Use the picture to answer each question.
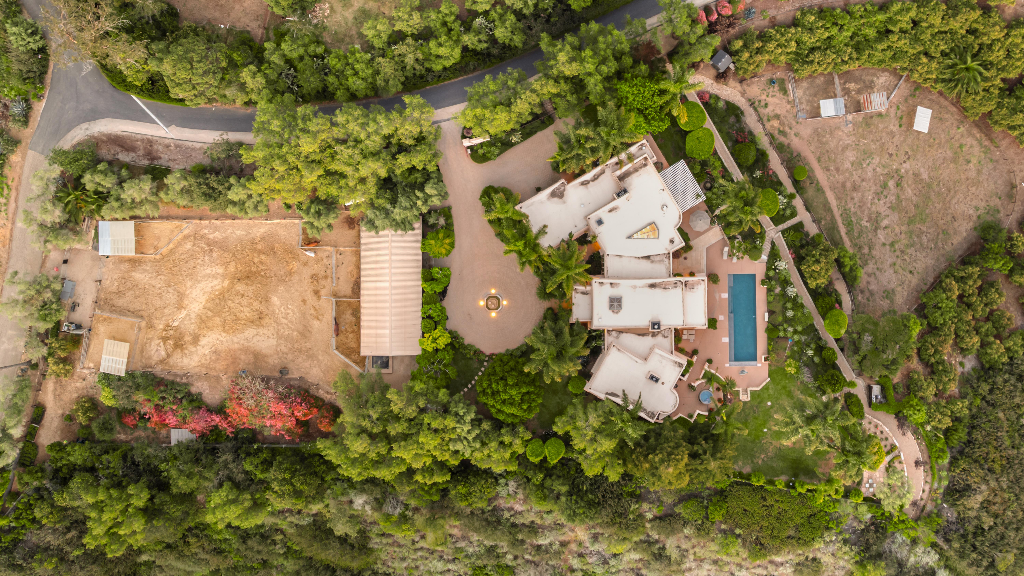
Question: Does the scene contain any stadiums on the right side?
No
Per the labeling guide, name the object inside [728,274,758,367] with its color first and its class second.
blue swimming pool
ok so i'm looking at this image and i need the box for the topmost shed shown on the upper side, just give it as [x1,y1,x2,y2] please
[706,51,730,75]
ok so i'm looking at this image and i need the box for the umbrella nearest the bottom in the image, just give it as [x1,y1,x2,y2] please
[690,210,711,230]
